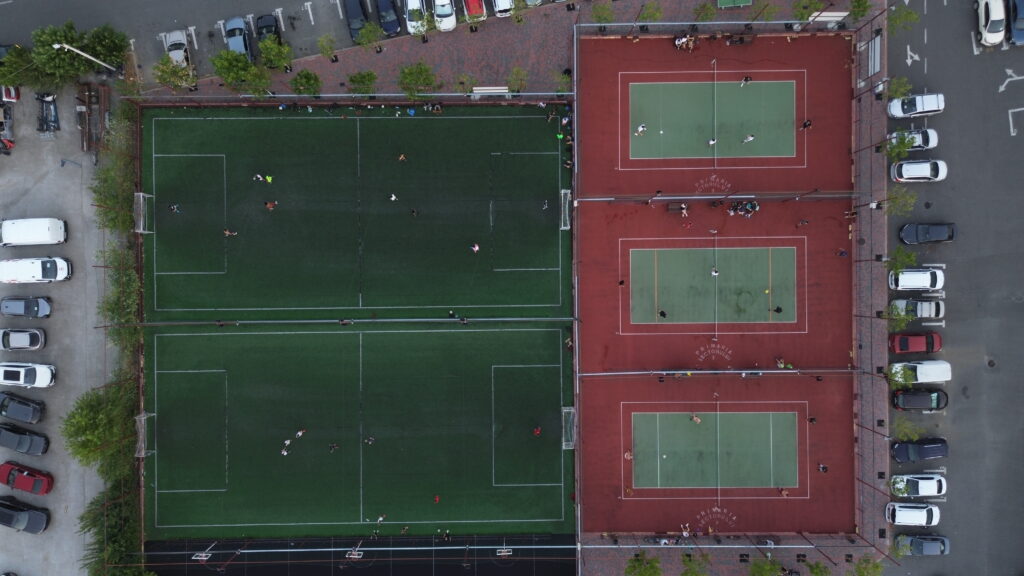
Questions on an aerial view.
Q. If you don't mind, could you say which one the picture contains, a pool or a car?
car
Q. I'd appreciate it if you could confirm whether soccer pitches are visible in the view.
Yes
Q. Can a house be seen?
No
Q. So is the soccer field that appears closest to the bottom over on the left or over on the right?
left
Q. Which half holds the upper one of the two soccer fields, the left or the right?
left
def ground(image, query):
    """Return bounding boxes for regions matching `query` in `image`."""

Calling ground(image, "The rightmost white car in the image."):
[972,0,1009,49]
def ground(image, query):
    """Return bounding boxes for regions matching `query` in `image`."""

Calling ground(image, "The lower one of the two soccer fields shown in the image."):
[143,318,573,541]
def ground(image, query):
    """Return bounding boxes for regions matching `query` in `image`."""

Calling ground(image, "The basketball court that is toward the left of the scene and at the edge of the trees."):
[147,535,573,576]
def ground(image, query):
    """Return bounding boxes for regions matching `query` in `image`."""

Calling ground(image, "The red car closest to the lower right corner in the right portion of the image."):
[885,330,942,357]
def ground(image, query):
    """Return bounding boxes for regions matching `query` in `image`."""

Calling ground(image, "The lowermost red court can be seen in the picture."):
[580,371,856,534]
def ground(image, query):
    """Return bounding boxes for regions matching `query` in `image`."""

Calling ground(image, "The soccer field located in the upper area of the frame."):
[140,103,573,323]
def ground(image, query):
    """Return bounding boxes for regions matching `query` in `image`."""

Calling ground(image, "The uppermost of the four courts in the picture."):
[579,35,852,198]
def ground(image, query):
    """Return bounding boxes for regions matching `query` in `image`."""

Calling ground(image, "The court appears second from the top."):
[579,197,854,371]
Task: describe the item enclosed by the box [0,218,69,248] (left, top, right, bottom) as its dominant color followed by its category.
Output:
white vehicle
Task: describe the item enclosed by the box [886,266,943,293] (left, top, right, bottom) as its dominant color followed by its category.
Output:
white car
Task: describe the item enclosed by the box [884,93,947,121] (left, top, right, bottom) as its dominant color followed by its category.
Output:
white car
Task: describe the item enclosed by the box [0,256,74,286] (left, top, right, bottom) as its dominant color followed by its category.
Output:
white vehicle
